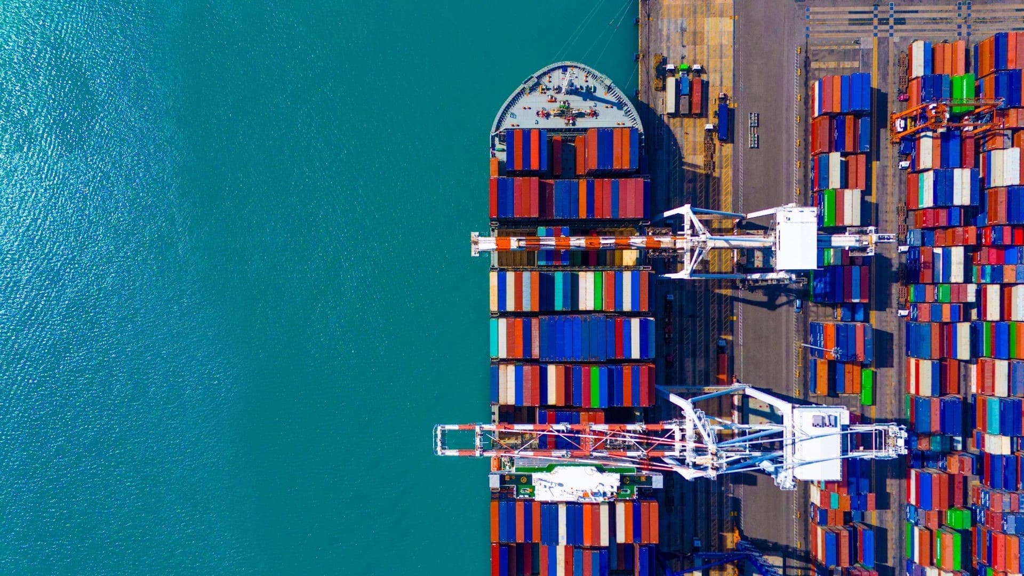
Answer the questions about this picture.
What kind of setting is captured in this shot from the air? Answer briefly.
port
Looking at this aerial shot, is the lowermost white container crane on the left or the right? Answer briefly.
right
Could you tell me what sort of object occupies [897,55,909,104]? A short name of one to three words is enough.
vehicle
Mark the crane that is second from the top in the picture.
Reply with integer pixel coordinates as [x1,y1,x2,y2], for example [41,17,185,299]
[471,204,895,291]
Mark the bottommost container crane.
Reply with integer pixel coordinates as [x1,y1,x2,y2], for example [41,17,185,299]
[650,530,767,576]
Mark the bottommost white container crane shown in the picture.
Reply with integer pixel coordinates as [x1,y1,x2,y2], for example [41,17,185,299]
[430,368,910,491]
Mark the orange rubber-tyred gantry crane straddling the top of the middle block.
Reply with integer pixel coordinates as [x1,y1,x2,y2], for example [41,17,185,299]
[892,96,1005,141]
